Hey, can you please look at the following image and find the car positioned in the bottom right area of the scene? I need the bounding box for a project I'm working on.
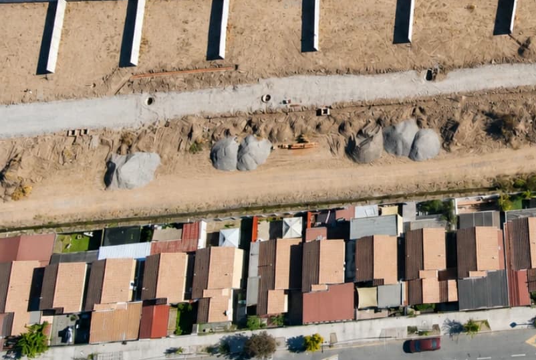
[409,337,439,353]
